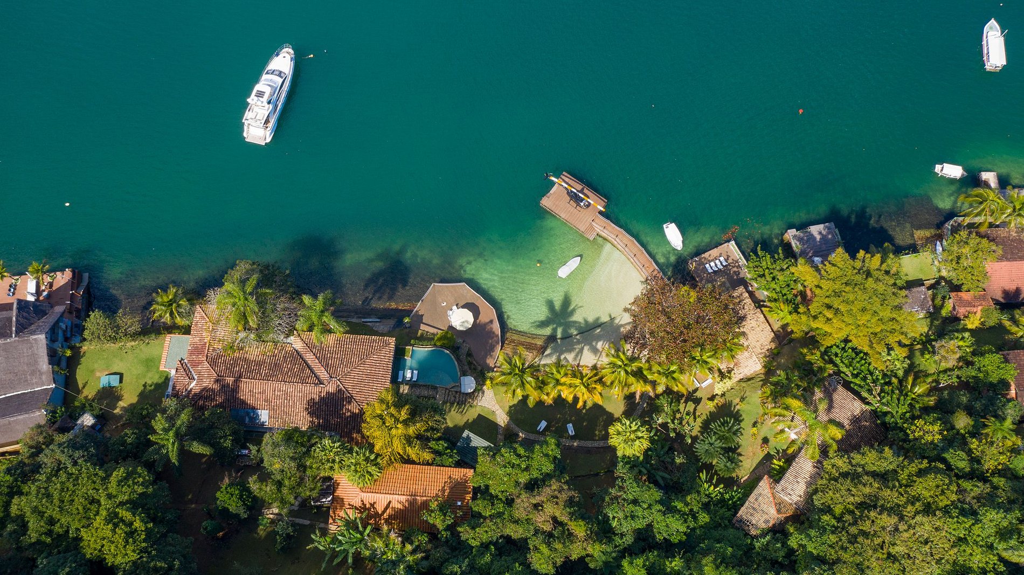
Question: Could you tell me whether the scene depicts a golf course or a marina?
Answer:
marina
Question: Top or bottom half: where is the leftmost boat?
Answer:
top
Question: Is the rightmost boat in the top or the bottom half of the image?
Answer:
top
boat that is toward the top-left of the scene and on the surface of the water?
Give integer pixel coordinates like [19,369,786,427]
[242,44,293,145]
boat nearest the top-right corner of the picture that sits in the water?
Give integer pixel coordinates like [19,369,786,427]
[982,18,1015,74]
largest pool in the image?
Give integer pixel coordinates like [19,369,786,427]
[392,343,465,387]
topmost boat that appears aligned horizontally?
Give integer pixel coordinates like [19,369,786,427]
[932,163,970,179]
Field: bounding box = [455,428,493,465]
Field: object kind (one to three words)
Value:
shed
